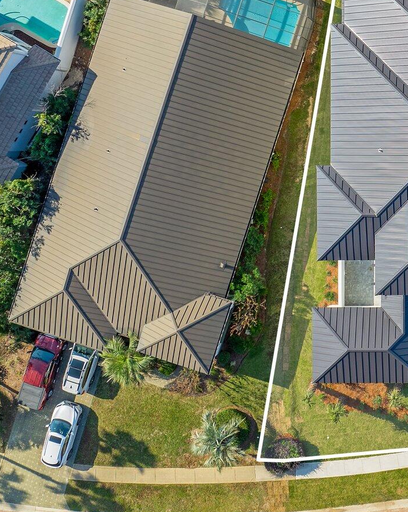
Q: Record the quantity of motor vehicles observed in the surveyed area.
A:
3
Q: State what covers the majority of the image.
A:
buildings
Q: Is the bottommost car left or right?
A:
left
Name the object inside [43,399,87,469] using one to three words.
car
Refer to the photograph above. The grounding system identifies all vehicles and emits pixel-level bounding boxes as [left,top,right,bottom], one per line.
[64,337,104,398]
[43,399,87,469]
[16,329,68,411]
